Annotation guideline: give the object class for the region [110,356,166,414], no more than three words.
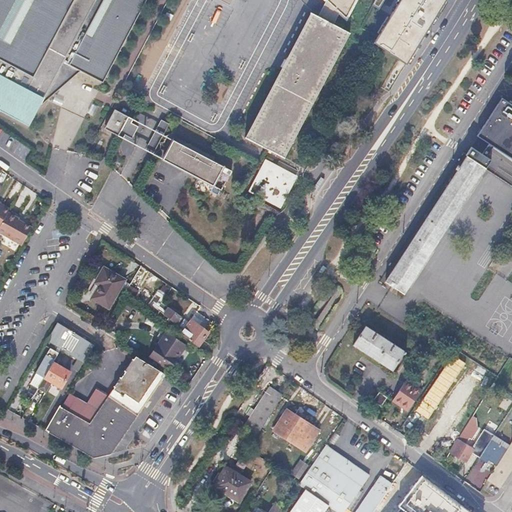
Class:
building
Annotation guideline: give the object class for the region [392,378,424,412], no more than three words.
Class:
house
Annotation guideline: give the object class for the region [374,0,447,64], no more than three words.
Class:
building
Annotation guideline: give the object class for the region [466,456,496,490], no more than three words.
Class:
shed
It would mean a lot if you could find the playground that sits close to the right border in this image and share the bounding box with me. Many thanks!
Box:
[372,156,512,355]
